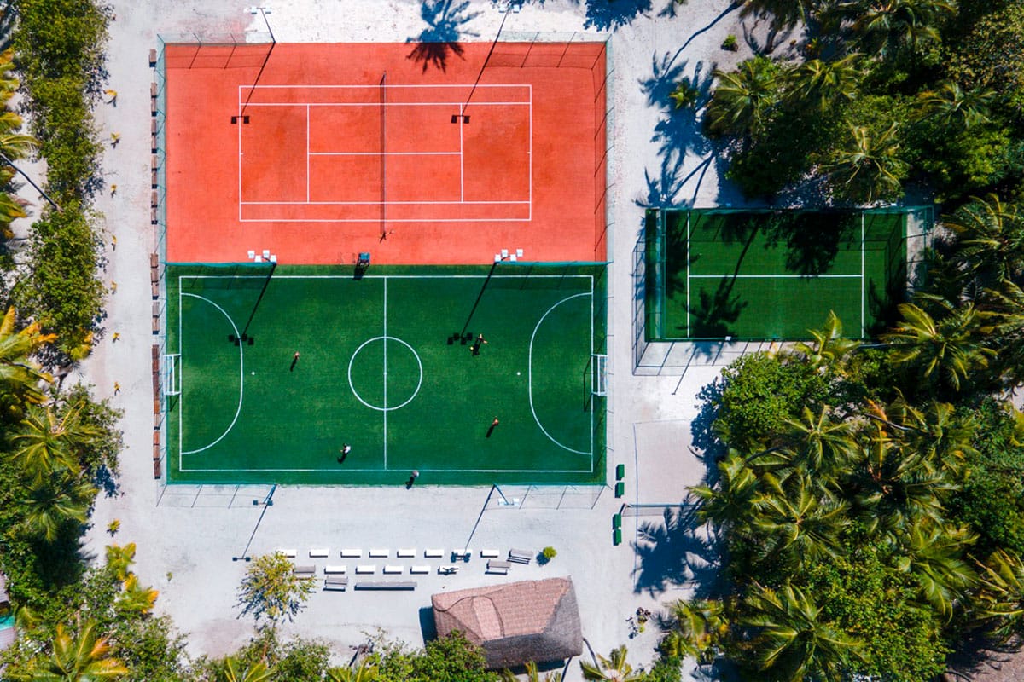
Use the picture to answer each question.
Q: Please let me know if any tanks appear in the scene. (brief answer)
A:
No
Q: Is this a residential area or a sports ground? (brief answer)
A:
sports ground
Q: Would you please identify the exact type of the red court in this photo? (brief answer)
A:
tennis court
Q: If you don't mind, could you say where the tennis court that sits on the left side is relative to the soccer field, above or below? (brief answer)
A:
above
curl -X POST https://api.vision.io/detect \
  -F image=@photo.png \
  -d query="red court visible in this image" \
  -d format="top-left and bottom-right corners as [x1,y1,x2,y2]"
[165,43,607,264]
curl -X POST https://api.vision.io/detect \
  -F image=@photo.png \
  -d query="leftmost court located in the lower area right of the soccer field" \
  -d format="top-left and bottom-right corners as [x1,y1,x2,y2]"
[634,418,732,591]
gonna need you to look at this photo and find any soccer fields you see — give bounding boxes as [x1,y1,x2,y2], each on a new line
[166,264,607,485]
